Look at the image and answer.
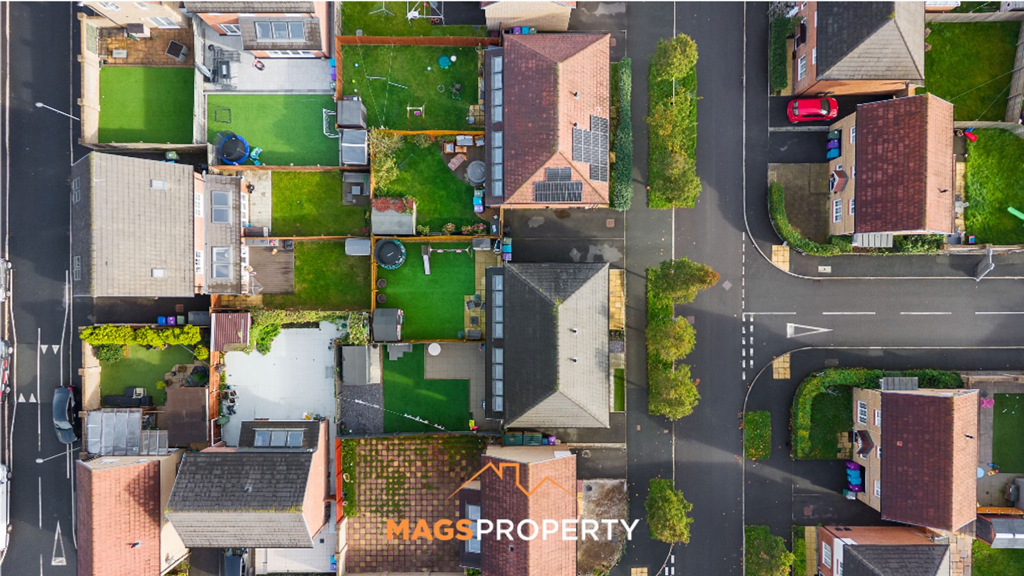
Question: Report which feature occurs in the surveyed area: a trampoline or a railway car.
trampoline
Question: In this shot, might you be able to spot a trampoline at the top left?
Yes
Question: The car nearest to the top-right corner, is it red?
Yes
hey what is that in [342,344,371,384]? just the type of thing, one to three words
shed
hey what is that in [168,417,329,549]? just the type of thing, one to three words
house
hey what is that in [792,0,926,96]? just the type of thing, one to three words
house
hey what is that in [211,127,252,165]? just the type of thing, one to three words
trampoline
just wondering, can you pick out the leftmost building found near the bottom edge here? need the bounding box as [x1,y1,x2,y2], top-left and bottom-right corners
[75,447,189,576]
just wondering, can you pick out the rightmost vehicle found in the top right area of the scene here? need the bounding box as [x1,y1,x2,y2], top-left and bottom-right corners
[784,96,837,124]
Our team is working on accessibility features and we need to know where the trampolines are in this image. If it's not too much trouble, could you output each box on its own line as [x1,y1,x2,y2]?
[374,237,408,269]
[211,127,252,165]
